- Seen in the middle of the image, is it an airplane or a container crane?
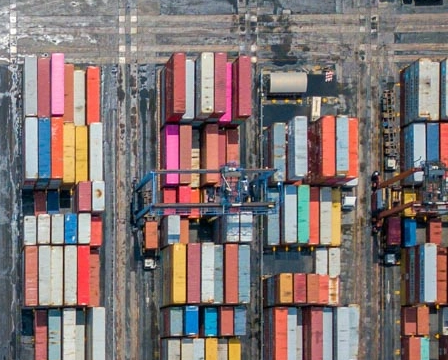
container crane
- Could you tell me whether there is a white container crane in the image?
No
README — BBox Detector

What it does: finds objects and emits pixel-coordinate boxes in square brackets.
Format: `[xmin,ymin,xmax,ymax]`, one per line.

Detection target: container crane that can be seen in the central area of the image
[135,166,283,226]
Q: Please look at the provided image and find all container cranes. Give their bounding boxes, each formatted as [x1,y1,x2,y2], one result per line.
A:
[375,165,448,225]
[135,166,283,226]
